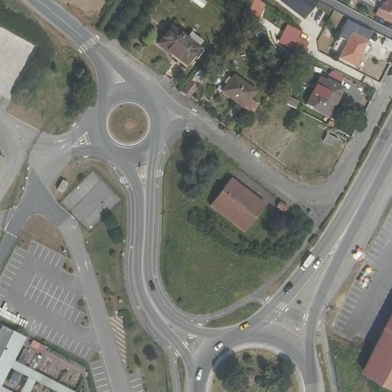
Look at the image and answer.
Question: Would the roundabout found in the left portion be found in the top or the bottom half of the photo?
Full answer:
The roundabout found in the left portion is in the top half of the image.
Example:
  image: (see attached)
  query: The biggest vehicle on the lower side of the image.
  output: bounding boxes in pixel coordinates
[300,252,316,271]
